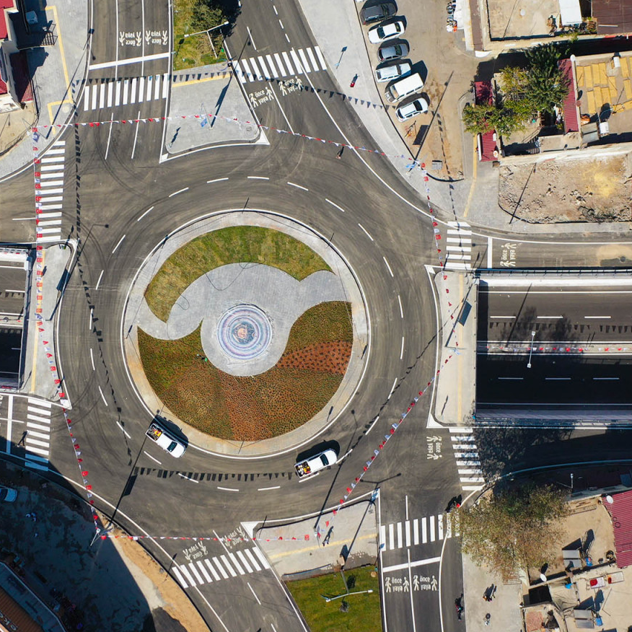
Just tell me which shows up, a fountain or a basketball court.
fountain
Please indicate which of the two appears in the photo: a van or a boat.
van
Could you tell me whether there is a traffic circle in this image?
Yes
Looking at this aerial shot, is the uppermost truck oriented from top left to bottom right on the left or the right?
left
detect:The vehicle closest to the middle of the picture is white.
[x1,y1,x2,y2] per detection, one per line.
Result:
[294,448,338,478]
